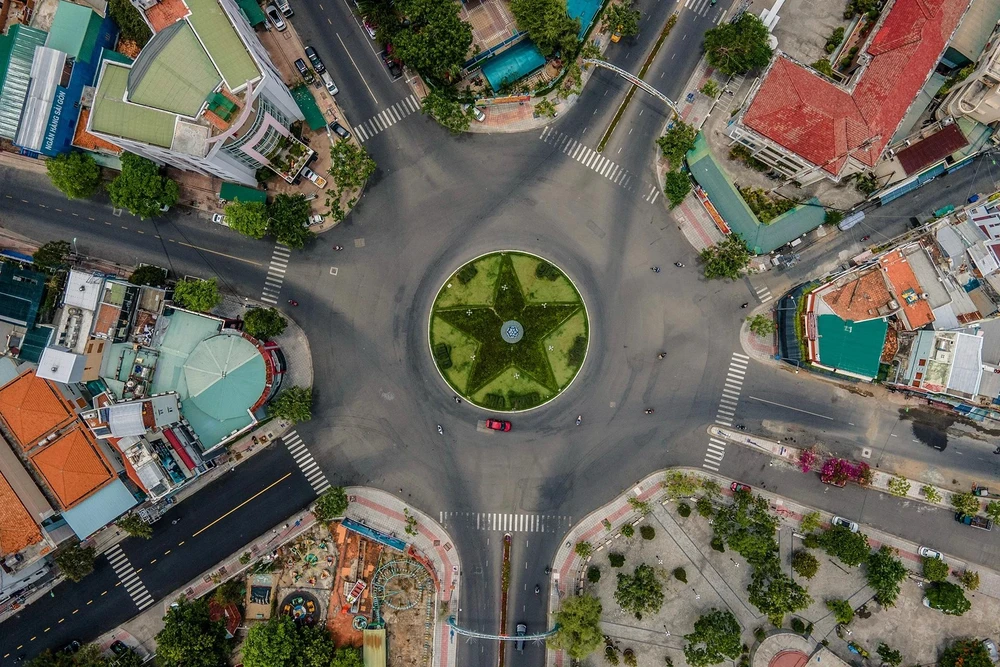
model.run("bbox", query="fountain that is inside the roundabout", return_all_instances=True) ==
[500,319,523,343]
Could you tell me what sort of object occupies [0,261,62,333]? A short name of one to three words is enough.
building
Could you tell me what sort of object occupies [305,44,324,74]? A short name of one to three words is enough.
car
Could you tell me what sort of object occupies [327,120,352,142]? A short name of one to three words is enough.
car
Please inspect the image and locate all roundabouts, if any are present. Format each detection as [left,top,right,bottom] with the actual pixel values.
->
[429,251,591,412]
